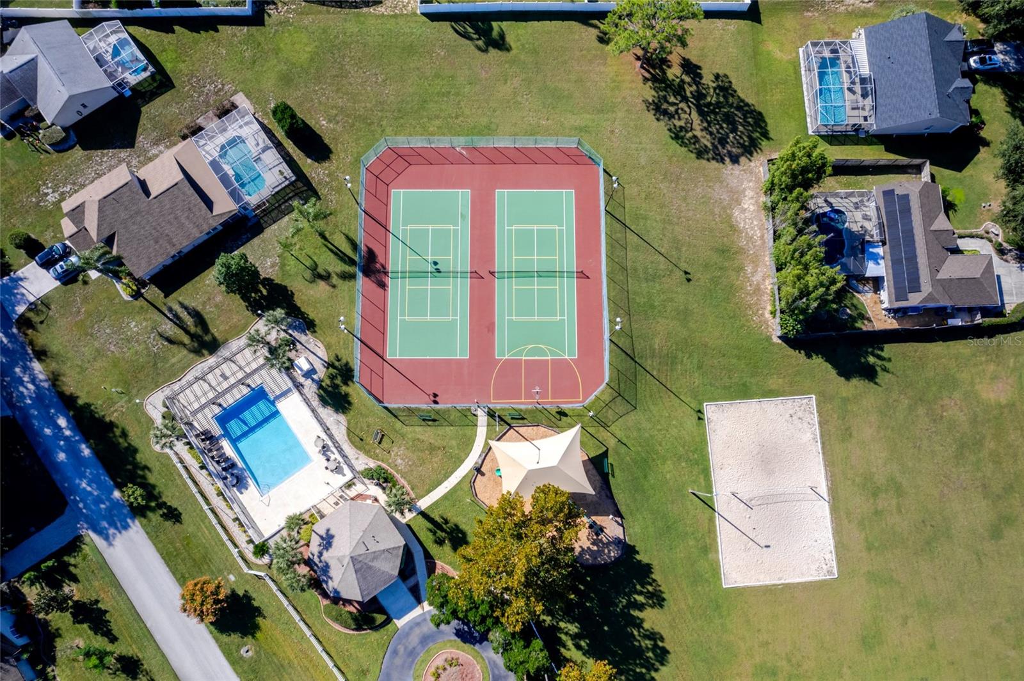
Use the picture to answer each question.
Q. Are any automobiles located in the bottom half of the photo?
No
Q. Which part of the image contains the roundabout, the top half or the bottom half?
bottom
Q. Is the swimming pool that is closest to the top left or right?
left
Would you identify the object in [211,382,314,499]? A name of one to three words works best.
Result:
swimming pool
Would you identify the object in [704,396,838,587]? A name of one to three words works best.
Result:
sports court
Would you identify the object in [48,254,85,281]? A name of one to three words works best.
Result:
car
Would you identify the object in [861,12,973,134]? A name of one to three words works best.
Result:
house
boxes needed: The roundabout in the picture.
[377,608,523,681]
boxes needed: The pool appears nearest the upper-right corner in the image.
[816,54,849,126]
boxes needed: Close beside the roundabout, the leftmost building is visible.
[308,500,406,602]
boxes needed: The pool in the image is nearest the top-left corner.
[110,35,150,77]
